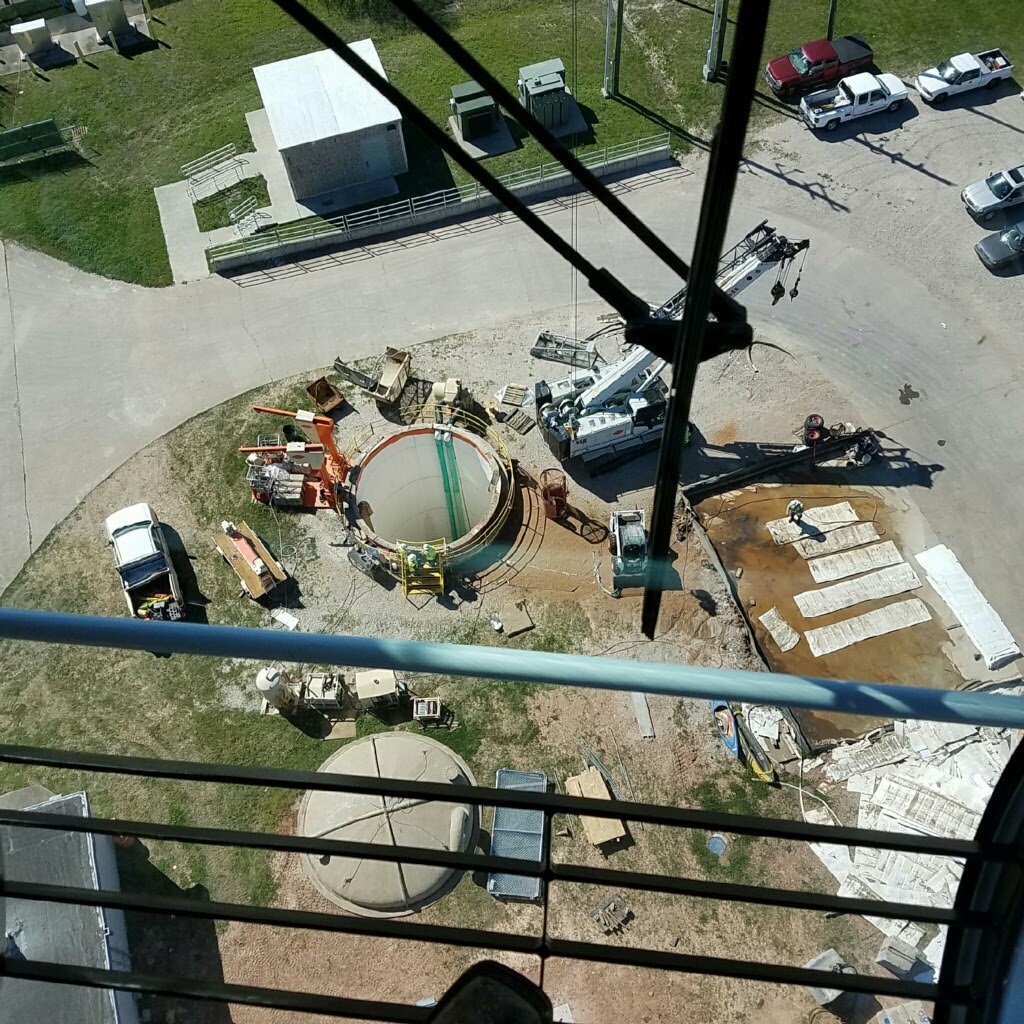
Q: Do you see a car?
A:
Yes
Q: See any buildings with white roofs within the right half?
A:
No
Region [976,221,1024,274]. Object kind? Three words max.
car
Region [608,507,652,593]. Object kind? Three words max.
work vehicle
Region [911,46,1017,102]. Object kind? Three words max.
truck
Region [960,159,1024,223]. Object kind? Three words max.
car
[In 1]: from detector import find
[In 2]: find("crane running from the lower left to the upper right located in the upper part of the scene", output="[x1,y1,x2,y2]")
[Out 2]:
[530,222,806,477]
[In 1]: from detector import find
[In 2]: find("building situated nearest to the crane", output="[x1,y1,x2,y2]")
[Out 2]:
[251,41,407,200]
